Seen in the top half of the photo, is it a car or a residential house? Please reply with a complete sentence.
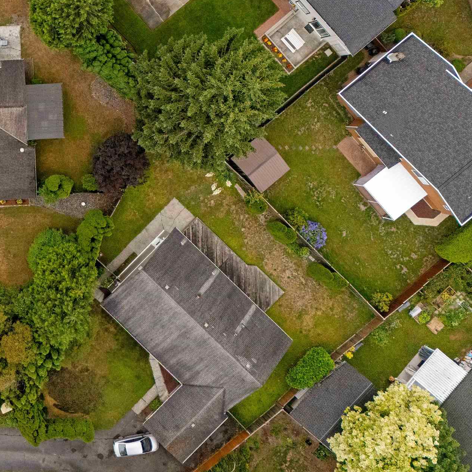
What appears in the top half of the photo is a residential house.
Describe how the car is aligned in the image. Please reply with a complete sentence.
The car is oriented from side to side.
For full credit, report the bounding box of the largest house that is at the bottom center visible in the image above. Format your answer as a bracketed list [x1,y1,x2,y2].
[101,228,293,464]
